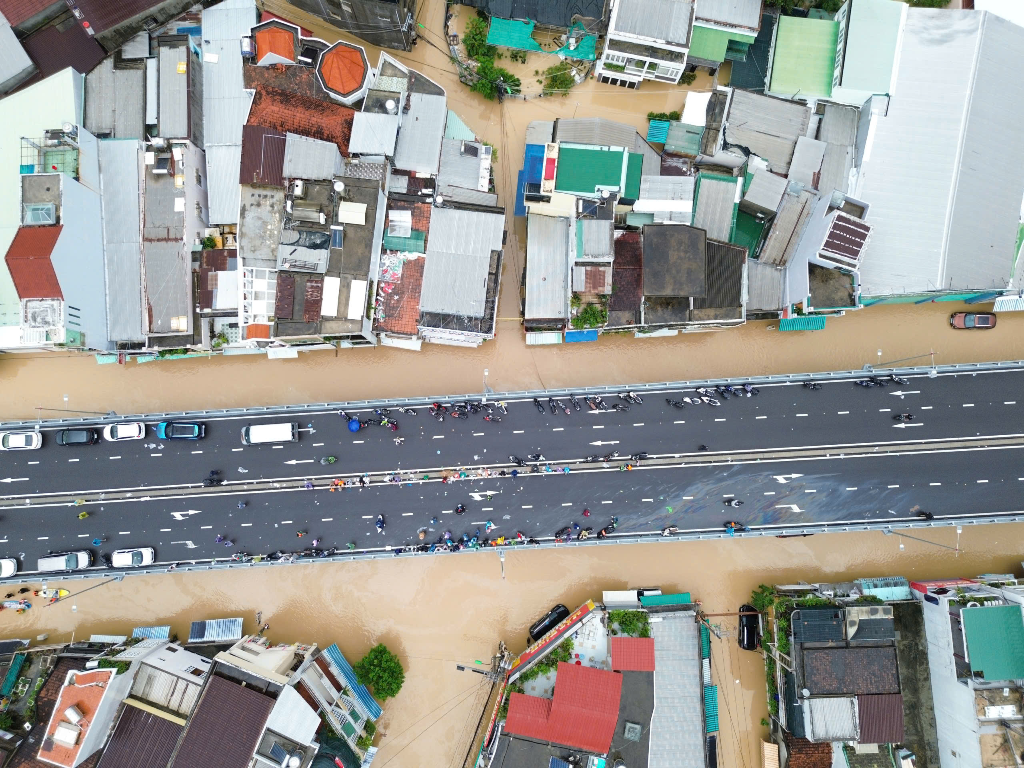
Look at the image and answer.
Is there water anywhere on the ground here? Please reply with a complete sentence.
Yes, water shows up in the scene.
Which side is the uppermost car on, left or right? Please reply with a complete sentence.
The uppermost car is on the right side of the image.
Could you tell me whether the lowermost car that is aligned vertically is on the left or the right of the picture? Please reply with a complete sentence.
You can find the lowermost car that is aligned vertically on the right side of the picture.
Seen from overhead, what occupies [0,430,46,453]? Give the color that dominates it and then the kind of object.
white car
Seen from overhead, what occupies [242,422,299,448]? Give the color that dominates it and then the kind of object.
white vehicle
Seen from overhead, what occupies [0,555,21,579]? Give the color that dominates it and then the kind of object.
white car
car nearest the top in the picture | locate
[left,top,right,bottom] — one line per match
[950,309,997,332]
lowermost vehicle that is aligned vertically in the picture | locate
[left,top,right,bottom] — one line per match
[737,604,759,649]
